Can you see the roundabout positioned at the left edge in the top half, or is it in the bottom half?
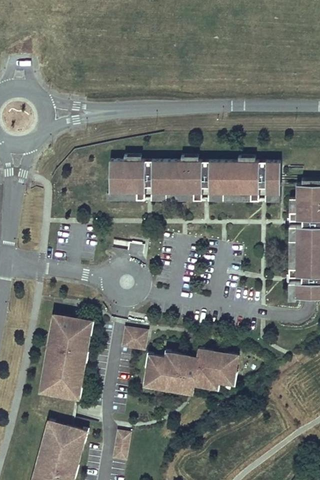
top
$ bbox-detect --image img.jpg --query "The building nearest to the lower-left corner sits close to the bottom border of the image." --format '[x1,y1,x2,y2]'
[33,421,91,480]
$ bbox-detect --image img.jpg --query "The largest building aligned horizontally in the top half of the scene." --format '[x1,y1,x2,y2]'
[108,154,281,202]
